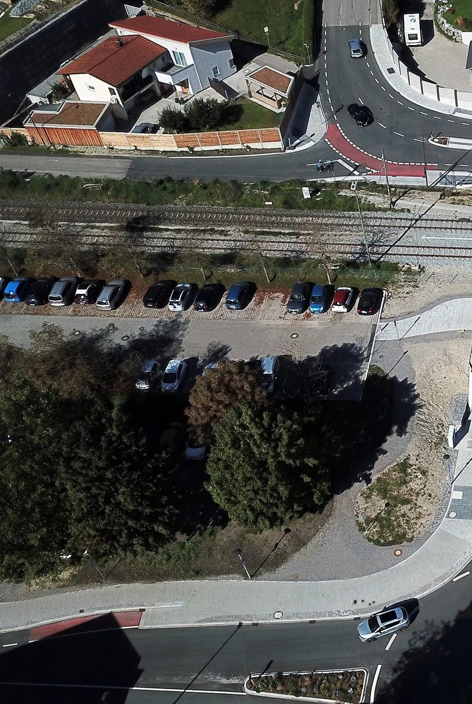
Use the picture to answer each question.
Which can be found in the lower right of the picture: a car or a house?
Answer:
car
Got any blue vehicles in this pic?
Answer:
Yes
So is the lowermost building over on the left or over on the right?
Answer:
left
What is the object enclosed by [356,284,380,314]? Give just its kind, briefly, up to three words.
car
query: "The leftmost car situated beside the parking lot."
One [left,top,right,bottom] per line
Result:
[0,275,29,301]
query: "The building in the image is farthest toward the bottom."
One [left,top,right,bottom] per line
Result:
[22,98,118,150]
